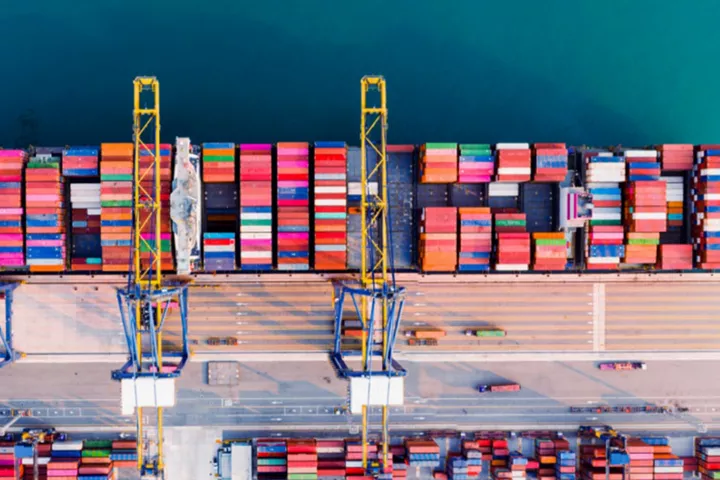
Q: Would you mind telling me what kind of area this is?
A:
port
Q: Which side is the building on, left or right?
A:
left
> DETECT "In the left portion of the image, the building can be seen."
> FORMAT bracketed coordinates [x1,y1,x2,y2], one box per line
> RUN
[220,439,252,480]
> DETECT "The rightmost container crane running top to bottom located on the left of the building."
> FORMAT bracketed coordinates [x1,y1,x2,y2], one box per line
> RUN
[112,74,195,478]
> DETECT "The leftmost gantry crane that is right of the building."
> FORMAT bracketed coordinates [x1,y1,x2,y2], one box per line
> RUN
[332,74,409,478]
